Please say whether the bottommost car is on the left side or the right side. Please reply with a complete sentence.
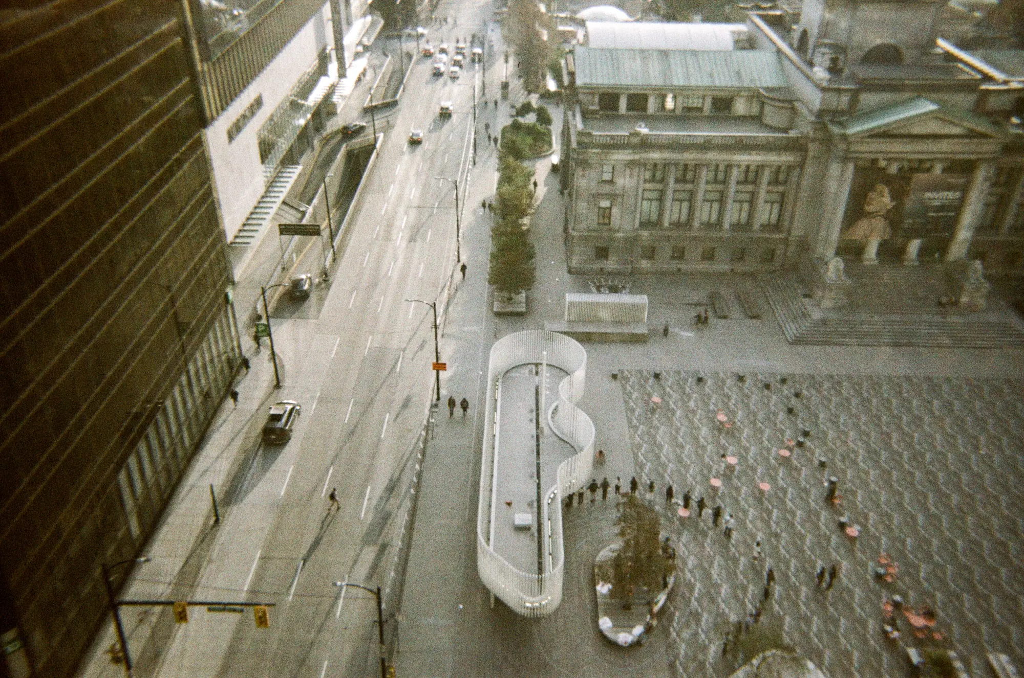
The bottommost car sits on the left side.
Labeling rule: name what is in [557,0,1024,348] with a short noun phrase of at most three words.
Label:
building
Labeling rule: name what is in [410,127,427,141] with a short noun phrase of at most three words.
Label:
car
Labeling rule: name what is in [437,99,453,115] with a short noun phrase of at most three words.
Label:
car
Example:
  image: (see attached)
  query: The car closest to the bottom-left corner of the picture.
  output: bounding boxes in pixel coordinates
[264,397,304,441]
